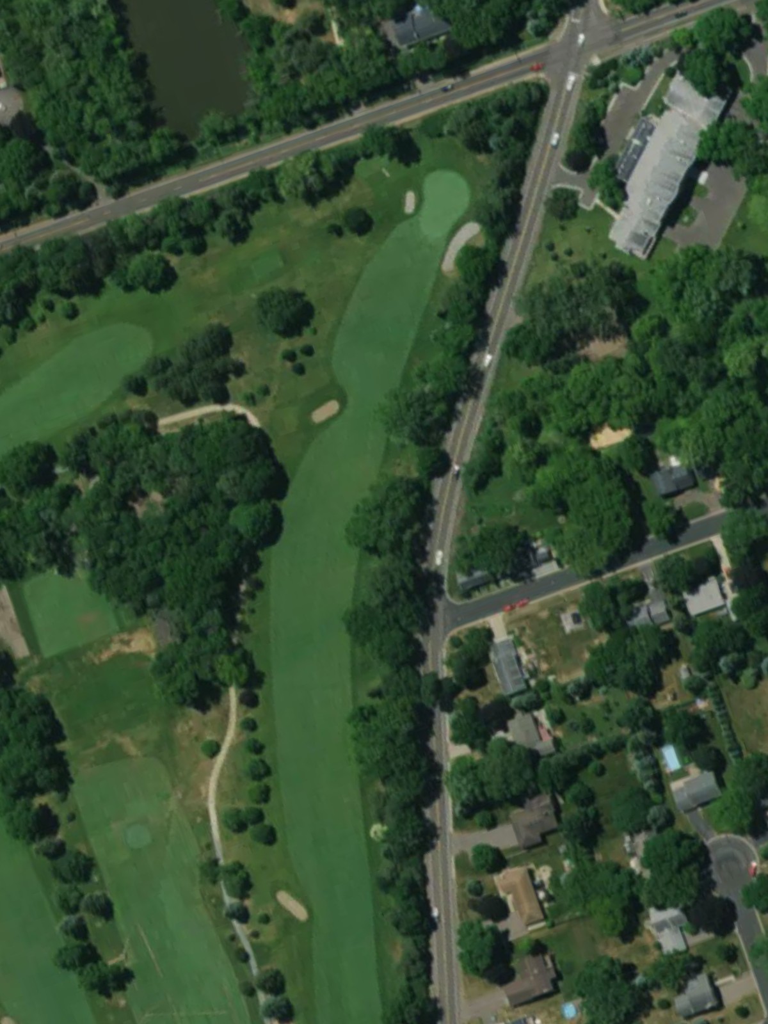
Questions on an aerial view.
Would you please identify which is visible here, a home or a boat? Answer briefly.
home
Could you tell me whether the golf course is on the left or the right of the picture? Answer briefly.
left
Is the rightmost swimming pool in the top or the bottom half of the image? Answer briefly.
bottom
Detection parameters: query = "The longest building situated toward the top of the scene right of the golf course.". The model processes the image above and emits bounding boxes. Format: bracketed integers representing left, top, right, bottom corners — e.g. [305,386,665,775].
[611,72,728,259]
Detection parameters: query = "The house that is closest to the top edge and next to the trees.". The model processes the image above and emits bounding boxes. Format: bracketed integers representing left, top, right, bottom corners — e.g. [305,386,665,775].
[395,1,449,44]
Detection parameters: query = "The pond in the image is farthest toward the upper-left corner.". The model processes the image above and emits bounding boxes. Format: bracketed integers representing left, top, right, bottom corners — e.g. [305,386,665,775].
[125,0,248,137]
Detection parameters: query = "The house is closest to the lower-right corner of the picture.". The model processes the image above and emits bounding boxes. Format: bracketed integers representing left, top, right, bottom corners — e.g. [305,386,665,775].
[676,974,717,1018]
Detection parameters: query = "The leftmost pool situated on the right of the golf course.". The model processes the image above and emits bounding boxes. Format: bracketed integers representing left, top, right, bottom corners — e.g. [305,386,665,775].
[561,1003,577,1018]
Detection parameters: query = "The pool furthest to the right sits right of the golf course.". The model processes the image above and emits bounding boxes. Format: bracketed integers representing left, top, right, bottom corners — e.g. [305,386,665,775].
[661,743,681,772]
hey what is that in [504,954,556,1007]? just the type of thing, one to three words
house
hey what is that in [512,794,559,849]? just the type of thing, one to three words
house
